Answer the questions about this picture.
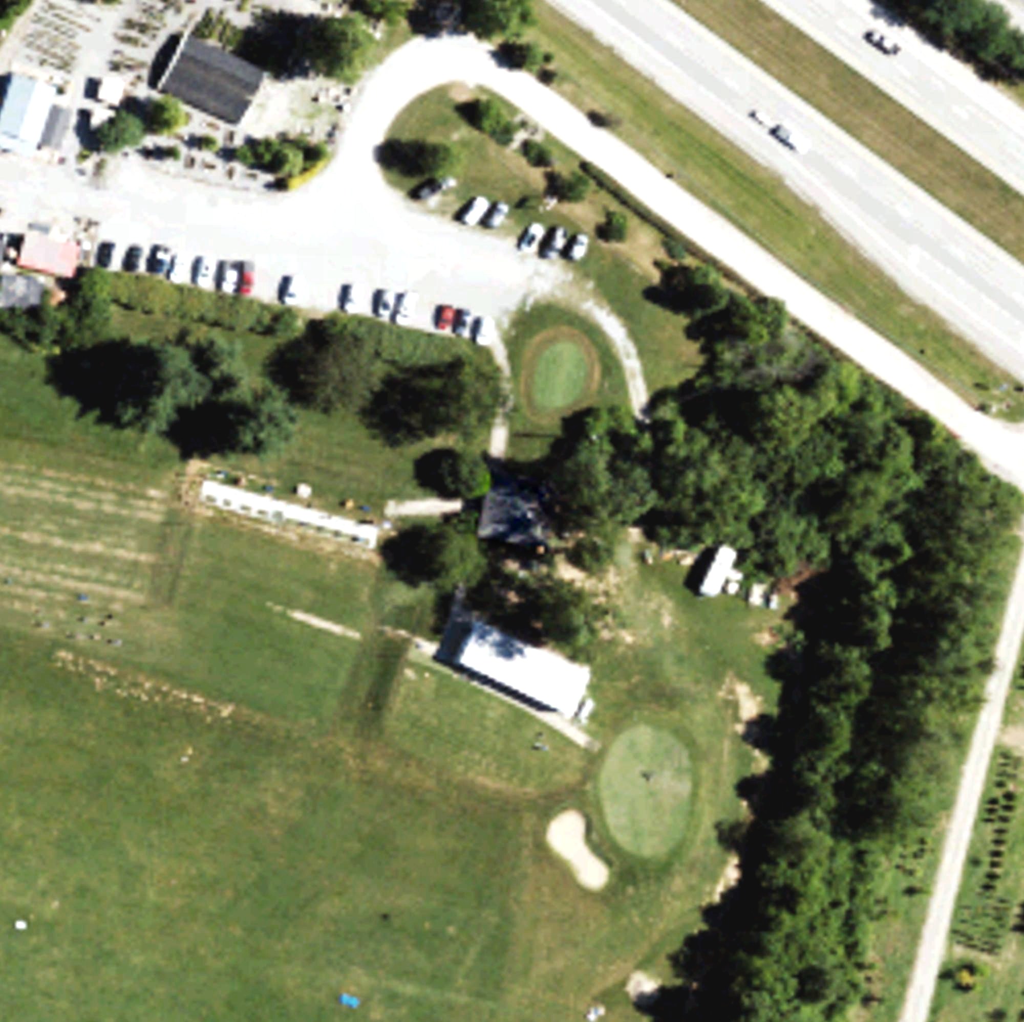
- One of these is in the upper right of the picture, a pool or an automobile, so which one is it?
automobile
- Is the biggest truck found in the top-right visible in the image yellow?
No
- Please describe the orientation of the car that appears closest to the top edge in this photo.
diagonally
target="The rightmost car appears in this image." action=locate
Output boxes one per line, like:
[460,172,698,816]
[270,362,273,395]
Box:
[868,30,896,54]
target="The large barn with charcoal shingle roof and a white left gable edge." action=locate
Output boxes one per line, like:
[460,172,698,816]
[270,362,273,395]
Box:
[157,32,264,124]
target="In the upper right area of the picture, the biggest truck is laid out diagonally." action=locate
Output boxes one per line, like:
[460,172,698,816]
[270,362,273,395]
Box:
[773,122,814,157]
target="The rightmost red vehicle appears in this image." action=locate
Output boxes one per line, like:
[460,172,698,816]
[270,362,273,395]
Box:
[440,303,455,330]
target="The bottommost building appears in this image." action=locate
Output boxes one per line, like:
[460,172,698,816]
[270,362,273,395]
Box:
[460,621,590,715]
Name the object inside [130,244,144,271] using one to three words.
car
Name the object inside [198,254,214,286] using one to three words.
vehicle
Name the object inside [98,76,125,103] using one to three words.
shed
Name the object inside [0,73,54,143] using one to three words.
greenhouse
